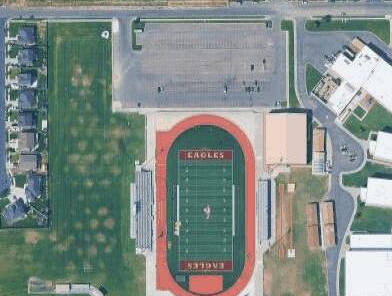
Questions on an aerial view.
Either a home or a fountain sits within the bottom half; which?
home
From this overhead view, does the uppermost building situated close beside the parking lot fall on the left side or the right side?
right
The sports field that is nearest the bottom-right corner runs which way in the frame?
up and down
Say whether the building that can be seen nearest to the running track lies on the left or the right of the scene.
right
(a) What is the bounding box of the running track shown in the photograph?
[155,115,255,296]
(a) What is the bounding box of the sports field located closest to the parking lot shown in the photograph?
[166,125,245,295]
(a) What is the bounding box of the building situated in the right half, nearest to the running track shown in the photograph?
[264,113,308,164]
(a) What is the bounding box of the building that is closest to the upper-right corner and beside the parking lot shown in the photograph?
[320,38,392,116]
